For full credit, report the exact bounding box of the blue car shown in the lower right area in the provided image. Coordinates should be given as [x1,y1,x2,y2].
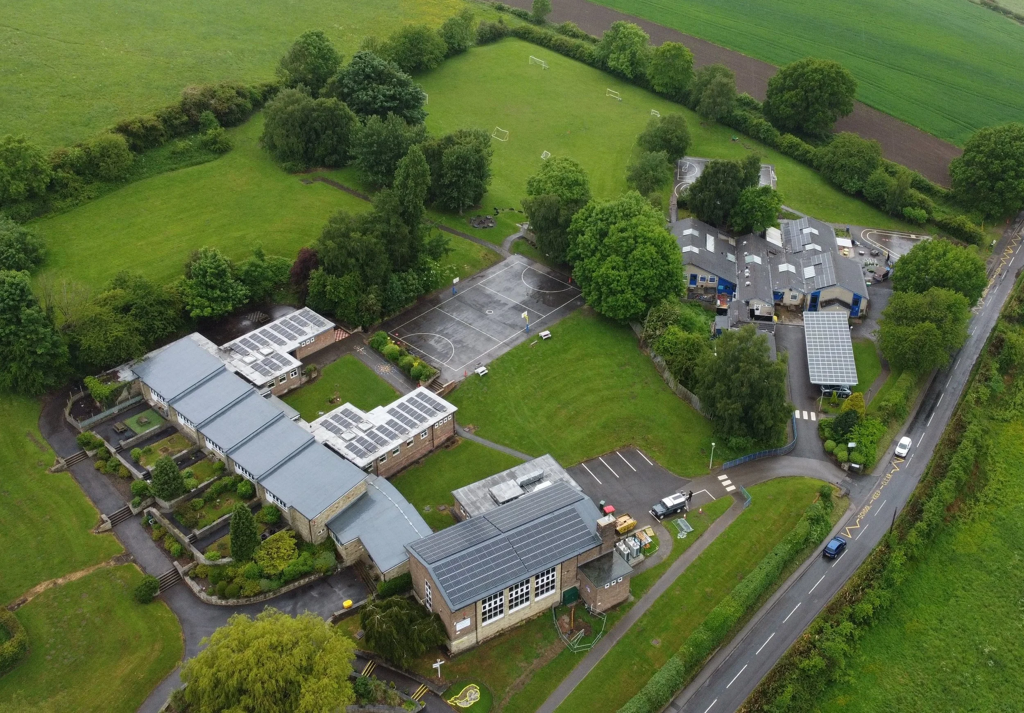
[822,533,847,558]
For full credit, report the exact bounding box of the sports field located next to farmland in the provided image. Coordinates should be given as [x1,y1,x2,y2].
[419,38,907,227]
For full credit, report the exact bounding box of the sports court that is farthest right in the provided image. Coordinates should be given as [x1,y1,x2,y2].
[670,155,715,221]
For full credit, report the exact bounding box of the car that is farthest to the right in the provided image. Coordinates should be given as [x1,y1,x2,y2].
[893,432,915,457]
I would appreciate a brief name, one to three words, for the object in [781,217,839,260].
building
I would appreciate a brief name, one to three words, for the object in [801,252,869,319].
building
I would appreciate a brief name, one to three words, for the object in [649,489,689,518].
truck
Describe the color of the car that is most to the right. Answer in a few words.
white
